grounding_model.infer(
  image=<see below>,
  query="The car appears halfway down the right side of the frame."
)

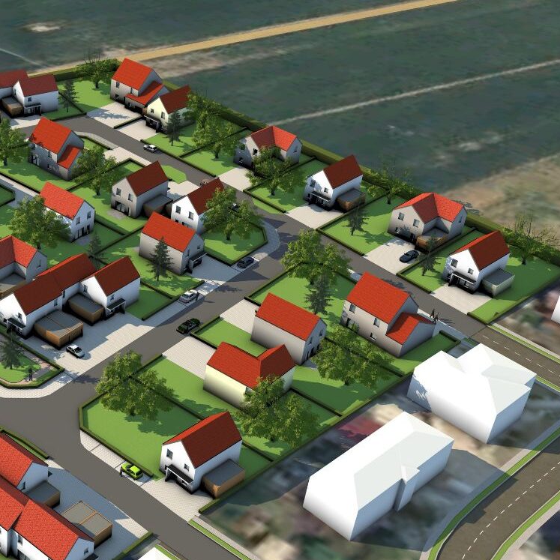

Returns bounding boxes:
[397,250,422,262]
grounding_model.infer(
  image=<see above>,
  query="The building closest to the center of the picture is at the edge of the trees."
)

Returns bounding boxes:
[247,293,327,364]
